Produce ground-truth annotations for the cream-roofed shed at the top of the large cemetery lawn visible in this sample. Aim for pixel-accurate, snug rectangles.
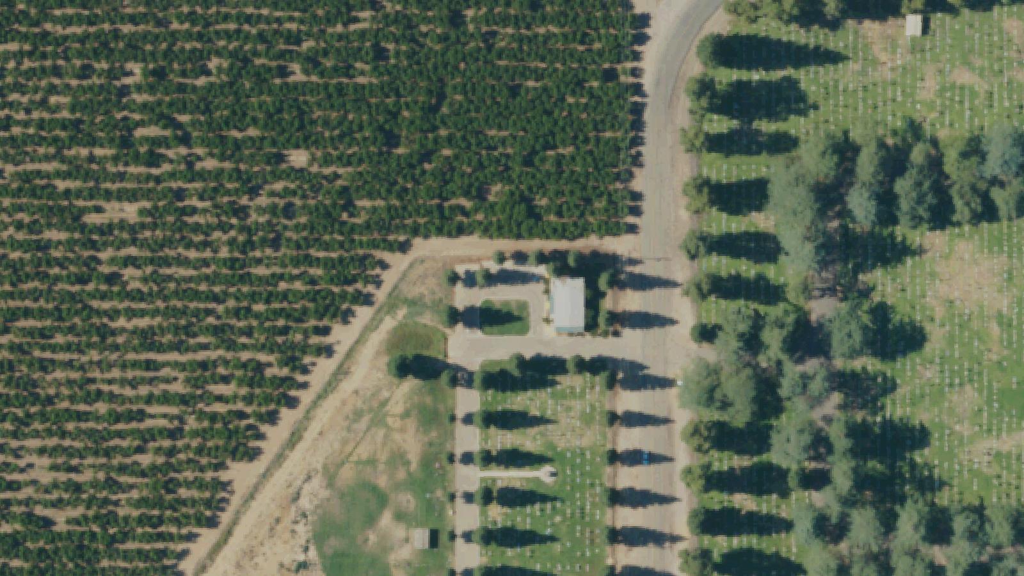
[906,14,922,35]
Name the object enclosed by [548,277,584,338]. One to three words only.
building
